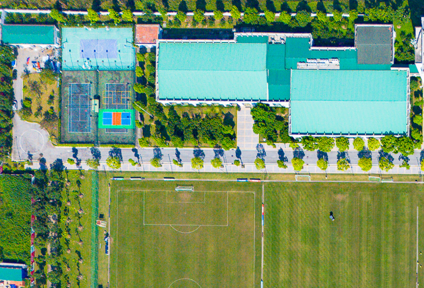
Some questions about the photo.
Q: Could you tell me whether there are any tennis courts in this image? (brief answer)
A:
Yes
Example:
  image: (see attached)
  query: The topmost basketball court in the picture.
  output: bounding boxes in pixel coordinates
[61,27,135,70]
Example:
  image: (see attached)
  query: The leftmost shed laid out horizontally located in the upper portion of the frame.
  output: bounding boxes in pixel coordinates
[3,26,60,49]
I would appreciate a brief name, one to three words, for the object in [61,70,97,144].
tennis court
